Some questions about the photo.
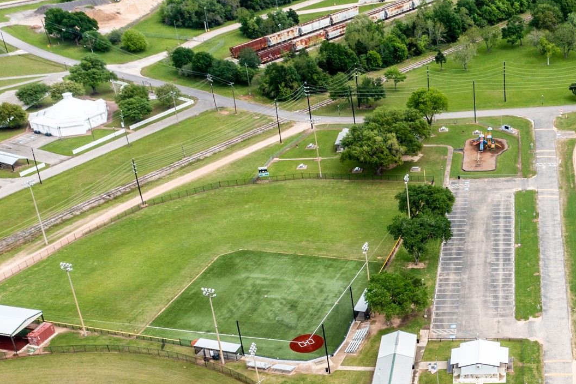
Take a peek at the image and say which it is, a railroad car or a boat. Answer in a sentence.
Of the two, only a railroad car appears.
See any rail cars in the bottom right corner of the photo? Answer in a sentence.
No, no rail car is visible in the bottom right corner of the photo.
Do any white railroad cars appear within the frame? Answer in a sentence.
Yes, the image includes a white railroad car.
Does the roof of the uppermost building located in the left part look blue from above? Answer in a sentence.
No, the roof of the uppermost building located in the left part is actually white.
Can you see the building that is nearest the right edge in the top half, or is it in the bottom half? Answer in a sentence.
It is in the bottom half that the building that is nearest the right edge appears.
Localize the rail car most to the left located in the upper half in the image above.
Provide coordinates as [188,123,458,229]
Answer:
[228,32,267,57]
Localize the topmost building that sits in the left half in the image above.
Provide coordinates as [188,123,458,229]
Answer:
[24,91,113,141]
